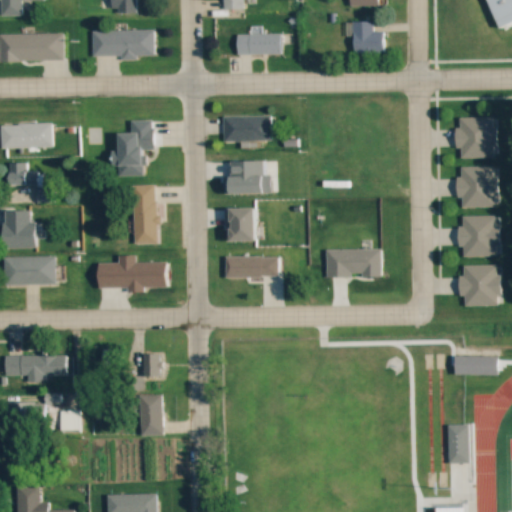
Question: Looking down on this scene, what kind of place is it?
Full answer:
What you see here is a residential area.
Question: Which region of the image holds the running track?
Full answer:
The running track is located in the bottom right region of the scene.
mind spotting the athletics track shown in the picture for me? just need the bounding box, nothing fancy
[476,370,512,512]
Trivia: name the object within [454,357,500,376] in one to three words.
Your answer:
building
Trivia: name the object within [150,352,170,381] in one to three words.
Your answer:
house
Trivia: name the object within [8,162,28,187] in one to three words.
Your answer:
house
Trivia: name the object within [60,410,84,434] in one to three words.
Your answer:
building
